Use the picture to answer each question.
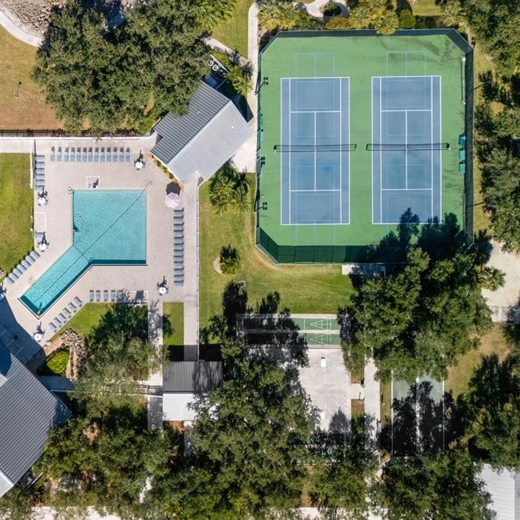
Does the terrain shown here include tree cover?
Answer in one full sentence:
Yes, there's tree cover in this view.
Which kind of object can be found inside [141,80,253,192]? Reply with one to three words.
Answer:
building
